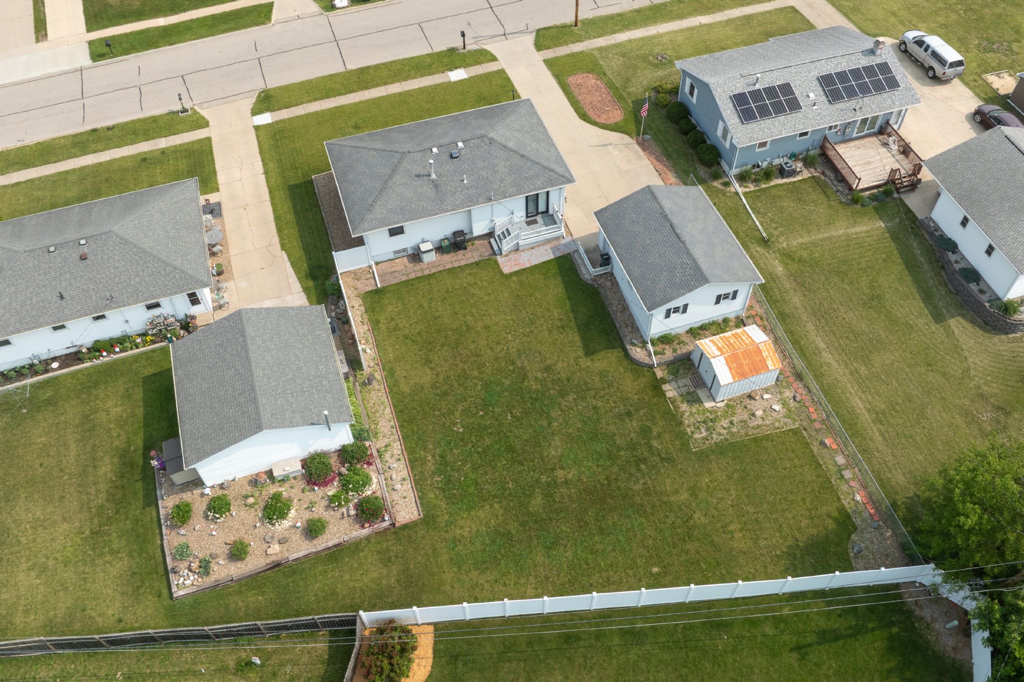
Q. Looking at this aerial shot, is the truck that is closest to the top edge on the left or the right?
right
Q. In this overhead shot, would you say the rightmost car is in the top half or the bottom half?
top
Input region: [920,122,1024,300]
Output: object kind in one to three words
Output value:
house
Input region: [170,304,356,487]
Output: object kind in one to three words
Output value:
building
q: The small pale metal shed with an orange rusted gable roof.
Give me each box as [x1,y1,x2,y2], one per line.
[694,326,782,402]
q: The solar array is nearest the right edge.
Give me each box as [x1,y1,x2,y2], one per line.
[819,61,900,103]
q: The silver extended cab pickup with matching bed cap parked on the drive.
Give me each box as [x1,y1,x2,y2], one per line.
[898,33,964,83]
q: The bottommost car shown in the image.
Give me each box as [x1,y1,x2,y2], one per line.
[972,97,1024,127]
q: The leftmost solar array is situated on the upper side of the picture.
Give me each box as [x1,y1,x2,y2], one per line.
[731,82,802,123]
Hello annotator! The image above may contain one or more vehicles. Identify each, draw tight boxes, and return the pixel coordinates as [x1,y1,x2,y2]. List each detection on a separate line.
[972,97,1024,127]
[898,33,964,83]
